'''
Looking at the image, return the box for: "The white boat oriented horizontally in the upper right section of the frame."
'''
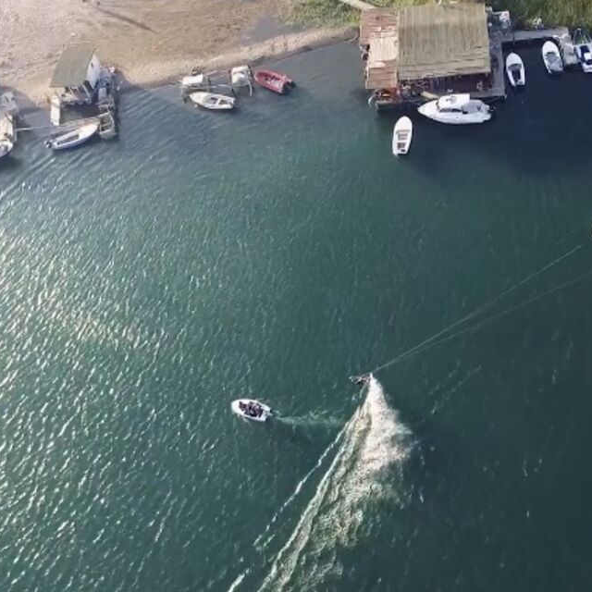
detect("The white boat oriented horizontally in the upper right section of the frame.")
[417,98,497,127]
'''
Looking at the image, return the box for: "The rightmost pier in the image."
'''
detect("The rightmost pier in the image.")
[554,33,578,66]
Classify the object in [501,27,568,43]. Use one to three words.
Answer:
pier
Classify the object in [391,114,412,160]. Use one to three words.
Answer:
boat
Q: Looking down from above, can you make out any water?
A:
Yes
